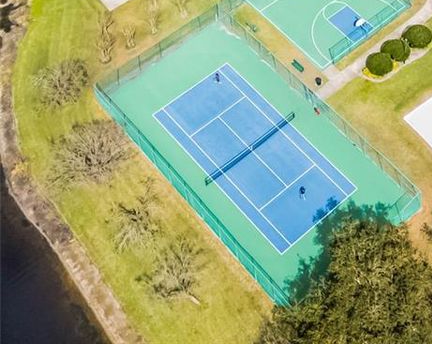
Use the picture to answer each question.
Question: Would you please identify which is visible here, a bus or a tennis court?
tennis court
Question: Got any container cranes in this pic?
No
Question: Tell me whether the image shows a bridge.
No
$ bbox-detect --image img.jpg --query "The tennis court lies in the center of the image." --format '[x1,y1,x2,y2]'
[97,17,423,312]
